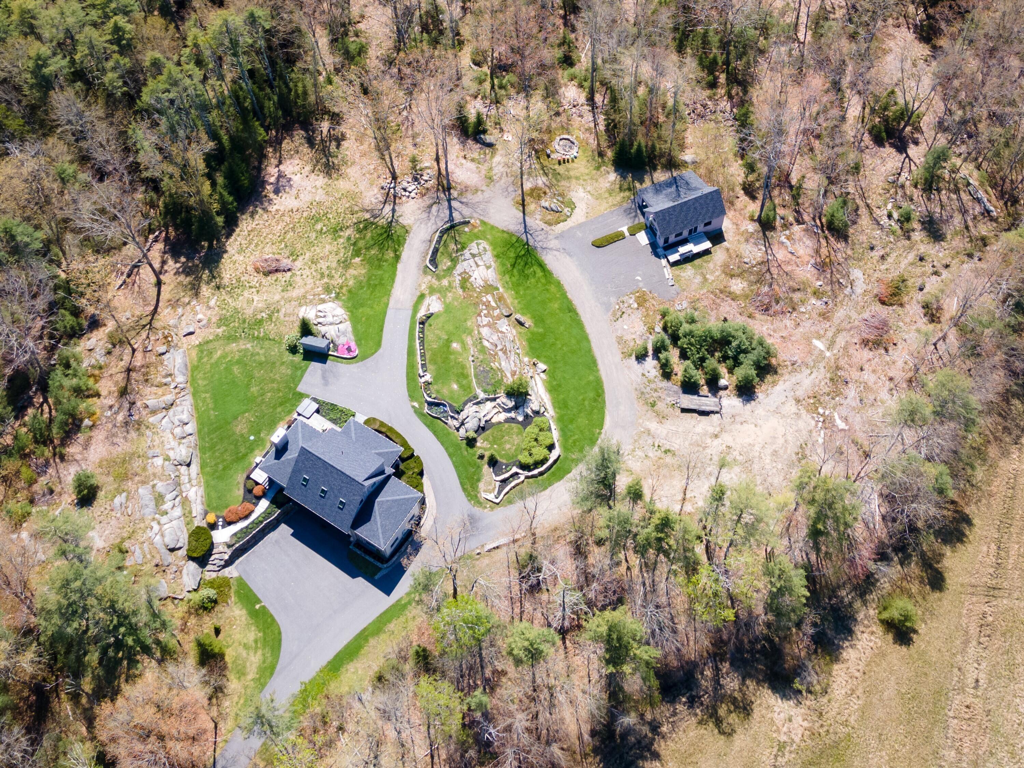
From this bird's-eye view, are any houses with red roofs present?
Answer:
No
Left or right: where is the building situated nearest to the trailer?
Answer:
right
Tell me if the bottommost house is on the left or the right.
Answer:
left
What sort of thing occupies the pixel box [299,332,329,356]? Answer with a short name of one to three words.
shed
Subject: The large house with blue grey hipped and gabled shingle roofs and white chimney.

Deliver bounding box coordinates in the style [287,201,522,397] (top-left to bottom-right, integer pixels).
[257,417,424,559]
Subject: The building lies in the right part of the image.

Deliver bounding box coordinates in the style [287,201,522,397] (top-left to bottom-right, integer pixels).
[637,170,726,246]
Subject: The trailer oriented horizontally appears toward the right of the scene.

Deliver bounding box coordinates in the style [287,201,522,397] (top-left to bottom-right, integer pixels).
[670,394,723,416]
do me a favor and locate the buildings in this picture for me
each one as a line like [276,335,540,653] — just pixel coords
[637,170,726,246]
[257,417,424,559]
[299,332,329,356]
